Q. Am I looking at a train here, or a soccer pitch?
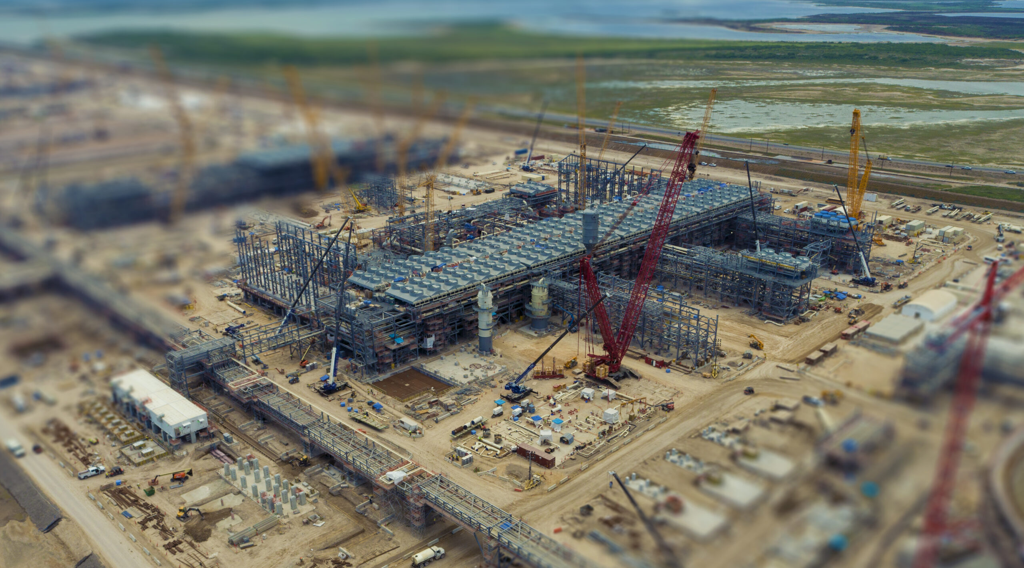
train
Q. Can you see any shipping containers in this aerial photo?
Yes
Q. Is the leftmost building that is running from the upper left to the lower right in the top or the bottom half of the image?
bottom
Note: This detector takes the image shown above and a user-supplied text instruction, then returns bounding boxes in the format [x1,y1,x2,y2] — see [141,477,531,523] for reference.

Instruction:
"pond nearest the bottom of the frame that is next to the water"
[660,100,1024,132]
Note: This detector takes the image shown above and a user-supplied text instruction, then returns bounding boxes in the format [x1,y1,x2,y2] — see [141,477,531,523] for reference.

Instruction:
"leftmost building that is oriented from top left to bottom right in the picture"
[112,370,213,453]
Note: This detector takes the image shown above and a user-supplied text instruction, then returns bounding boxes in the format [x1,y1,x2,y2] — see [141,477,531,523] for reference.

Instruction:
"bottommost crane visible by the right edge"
[925,269,1024,568]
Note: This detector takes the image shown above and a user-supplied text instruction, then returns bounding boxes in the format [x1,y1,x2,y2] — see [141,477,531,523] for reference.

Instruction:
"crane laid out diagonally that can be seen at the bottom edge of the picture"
[607,470,706,568]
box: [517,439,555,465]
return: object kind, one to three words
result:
shipping container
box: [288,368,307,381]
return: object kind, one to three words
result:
vehicle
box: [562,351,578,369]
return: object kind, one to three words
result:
work vehicle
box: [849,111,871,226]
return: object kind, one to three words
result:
crane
